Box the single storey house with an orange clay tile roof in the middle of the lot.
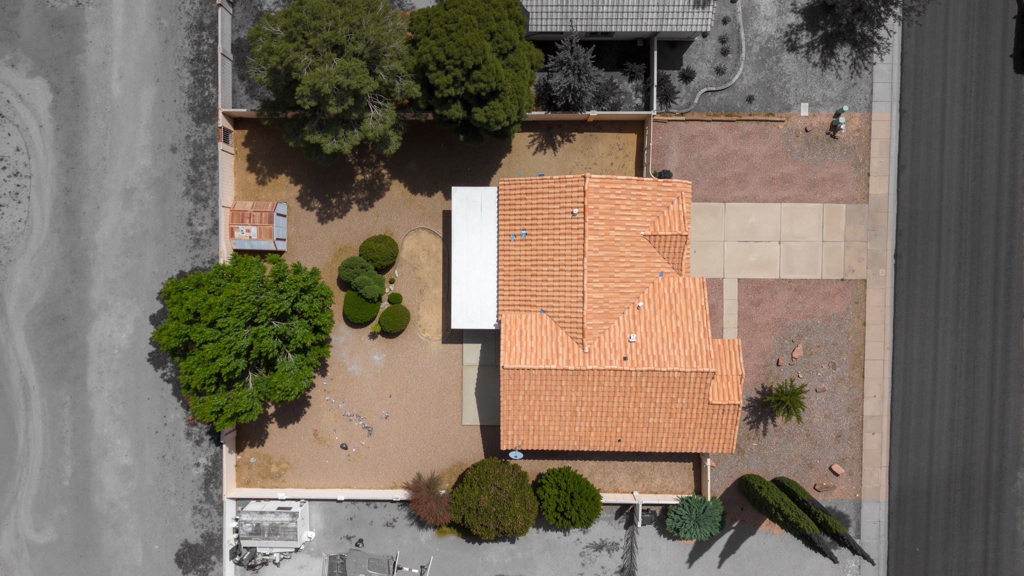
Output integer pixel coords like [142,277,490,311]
[497,174,745,453]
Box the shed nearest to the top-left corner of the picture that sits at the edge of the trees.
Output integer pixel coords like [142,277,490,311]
[229,201,286,250]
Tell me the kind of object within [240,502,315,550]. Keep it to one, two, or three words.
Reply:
vehicle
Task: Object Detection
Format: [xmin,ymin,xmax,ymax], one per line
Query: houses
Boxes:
[523,0,714,43]
[497,174,745,453]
